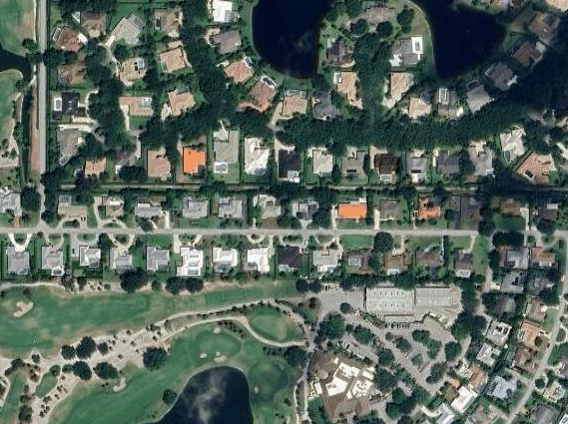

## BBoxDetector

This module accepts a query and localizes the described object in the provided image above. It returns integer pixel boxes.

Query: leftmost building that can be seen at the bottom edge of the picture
[307,350,378,420]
